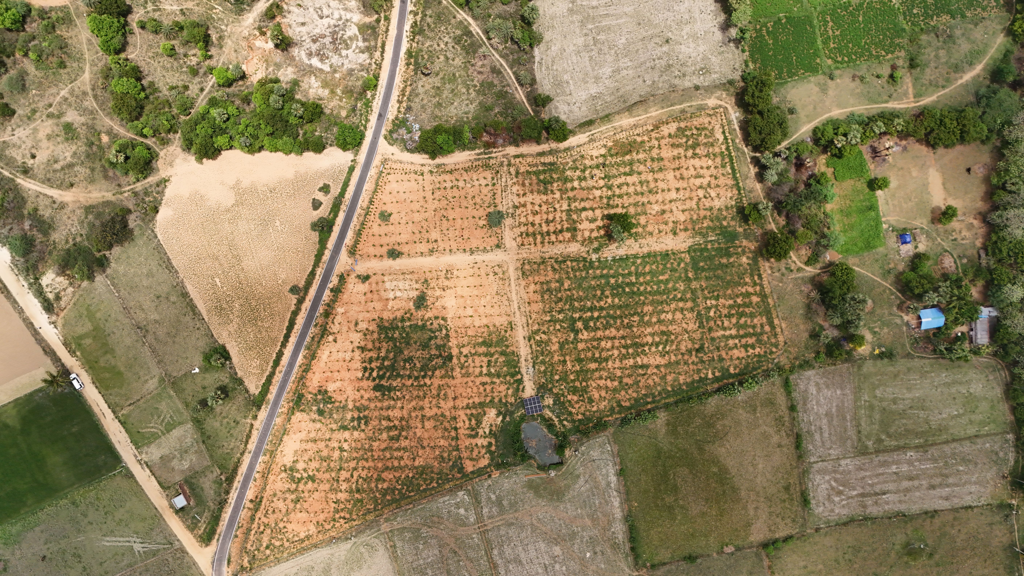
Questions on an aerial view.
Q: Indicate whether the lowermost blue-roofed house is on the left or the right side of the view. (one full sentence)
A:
The lowermost blue-roofed house is on the right side of the image.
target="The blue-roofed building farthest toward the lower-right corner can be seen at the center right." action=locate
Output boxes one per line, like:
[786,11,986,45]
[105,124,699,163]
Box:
[912,308,945,330]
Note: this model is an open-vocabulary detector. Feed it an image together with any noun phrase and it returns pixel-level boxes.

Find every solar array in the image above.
[523,396,543,415]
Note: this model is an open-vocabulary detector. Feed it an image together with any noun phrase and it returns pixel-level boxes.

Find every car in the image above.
[68,374,83,390]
